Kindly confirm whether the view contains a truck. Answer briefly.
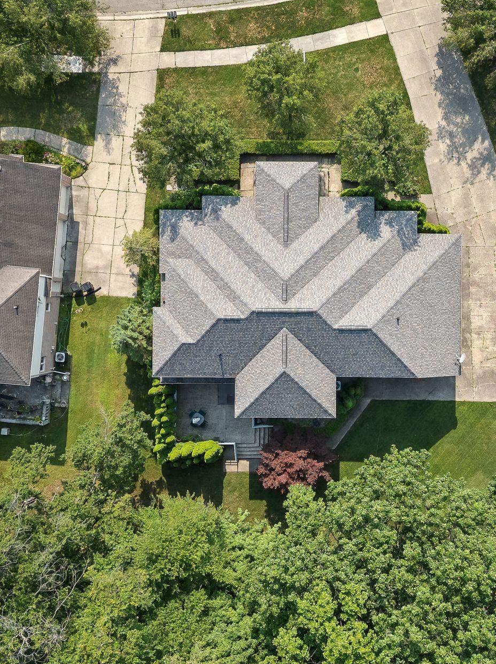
No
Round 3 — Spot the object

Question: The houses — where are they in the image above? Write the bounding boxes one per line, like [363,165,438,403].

[0,152,72,386]
[152,160,466,419]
